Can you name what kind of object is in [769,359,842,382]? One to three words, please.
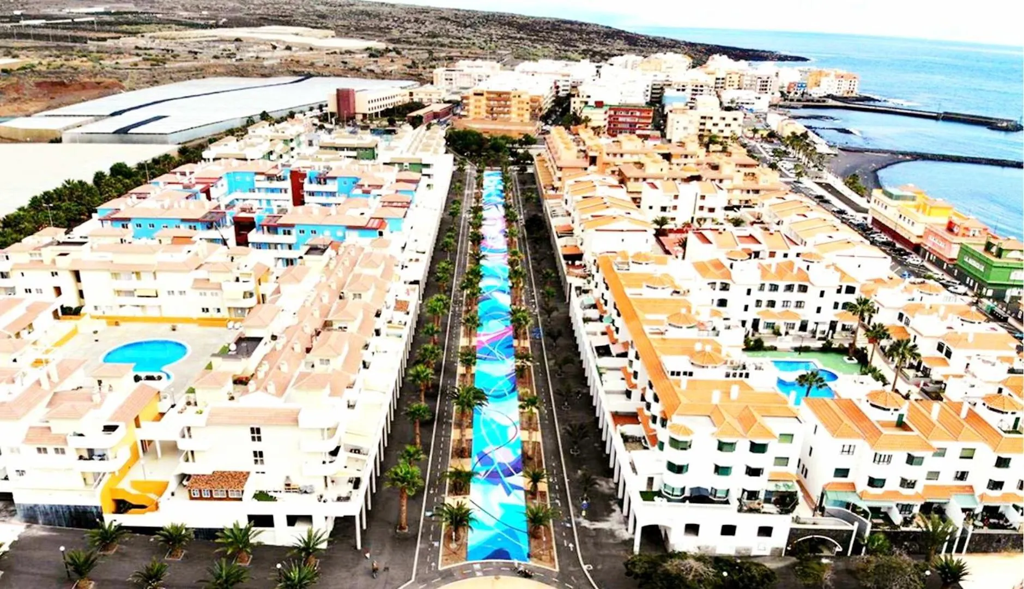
swimming pool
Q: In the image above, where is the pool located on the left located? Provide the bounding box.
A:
[100,337,195,382]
